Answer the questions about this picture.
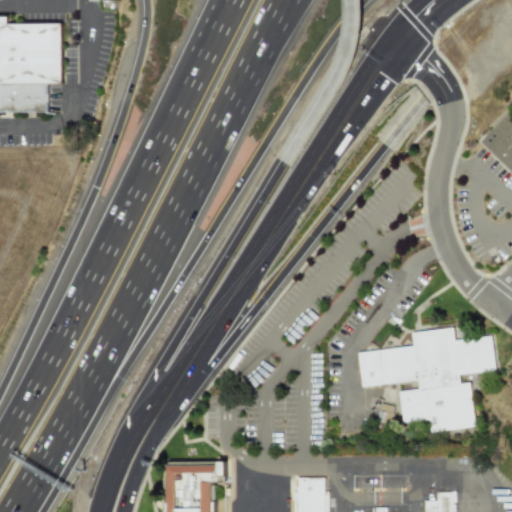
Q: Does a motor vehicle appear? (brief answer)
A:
No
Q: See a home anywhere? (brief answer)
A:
No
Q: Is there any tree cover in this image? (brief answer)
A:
No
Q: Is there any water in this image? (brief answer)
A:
No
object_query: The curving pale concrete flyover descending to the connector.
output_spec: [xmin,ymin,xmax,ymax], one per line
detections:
[275,0,361,164]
